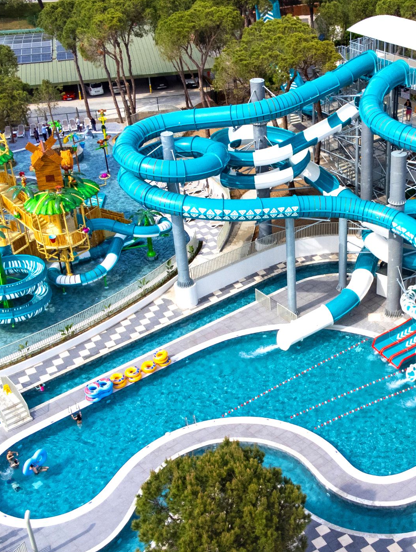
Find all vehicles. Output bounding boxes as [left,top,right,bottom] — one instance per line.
[59,85,76,99]
[109,80,129,93]
[183,73,202,84]
[87,82,106,96]
[151,75,170,89]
